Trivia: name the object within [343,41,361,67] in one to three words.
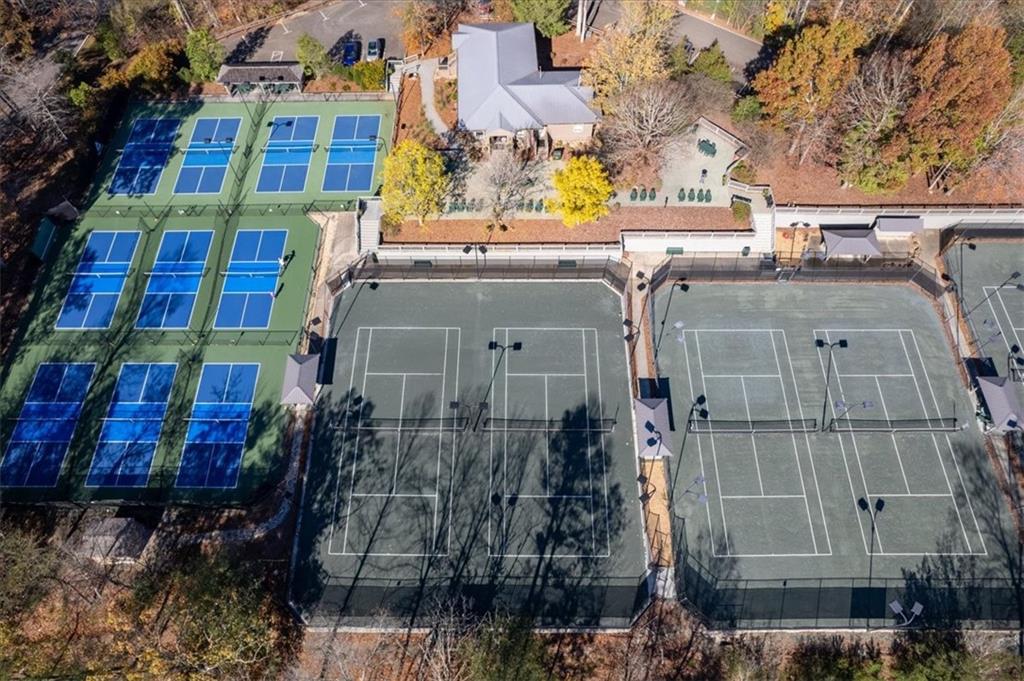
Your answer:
car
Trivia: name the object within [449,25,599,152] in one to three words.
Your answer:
building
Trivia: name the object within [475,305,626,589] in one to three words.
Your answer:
tennis court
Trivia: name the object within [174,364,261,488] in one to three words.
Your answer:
sports court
